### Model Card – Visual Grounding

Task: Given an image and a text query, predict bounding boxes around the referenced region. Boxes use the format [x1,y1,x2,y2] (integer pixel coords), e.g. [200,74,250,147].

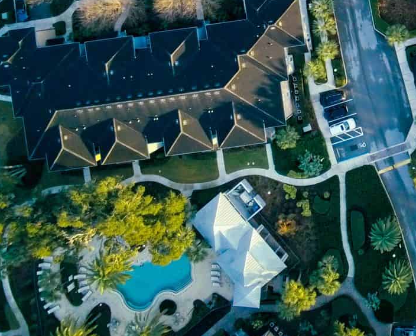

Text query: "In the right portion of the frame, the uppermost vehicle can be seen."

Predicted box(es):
[320,90,347,106]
